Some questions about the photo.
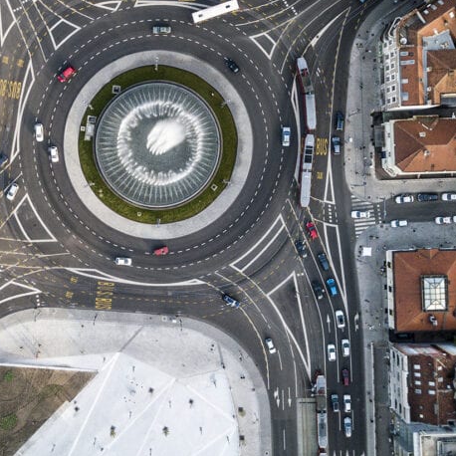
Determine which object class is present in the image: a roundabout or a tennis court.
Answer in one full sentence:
I can see a roundabout in this picture.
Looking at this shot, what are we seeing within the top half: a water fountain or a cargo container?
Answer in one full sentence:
Looking within the top half, you will find a water fountain.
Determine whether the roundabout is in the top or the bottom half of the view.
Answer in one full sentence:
You can find the roundabout in the top half.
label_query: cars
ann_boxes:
[221,293,239,307]
[352,211,371,218]
[391,219,407,227]
[318,251,329,271]
[295,239,309,258]
[7,183,20,200]
[342,338,350,356]
[223,57,240,75]
[114,257,133,266]
[56,65,75,81]
[344,419,352,435]
[313,281,324,300]
[395,195,413,204]
[332,137,341,154]
[265,337,275,354]
[153,25,170,33]
[281,127,289,145]
[334,111,344,130]
[326,279,337,296]
[327,343,337,361]
[50,145,58,162]
[153,245,169,256]
[35,124,44,140]
[305,221,318,239]
[442,193,456,202]
[419,193,437,203]
[343,394,351,413]
[434,216,453,224]
[336,310,345,328]
[341,367,350,385]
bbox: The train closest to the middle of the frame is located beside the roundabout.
[298,134,314,207]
